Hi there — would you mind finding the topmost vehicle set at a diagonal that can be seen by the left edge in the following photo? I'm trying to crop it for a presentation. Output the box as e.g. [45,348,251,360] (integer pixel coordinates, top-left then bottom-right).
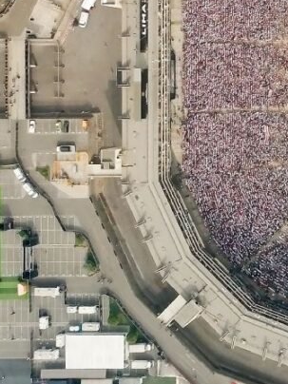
[7,164,30,184]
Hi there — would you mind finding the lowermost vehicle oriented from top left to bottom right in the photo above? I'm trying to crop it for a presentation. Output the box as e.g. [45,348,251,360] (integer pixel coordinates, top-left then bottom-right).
[17,181,41,202]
